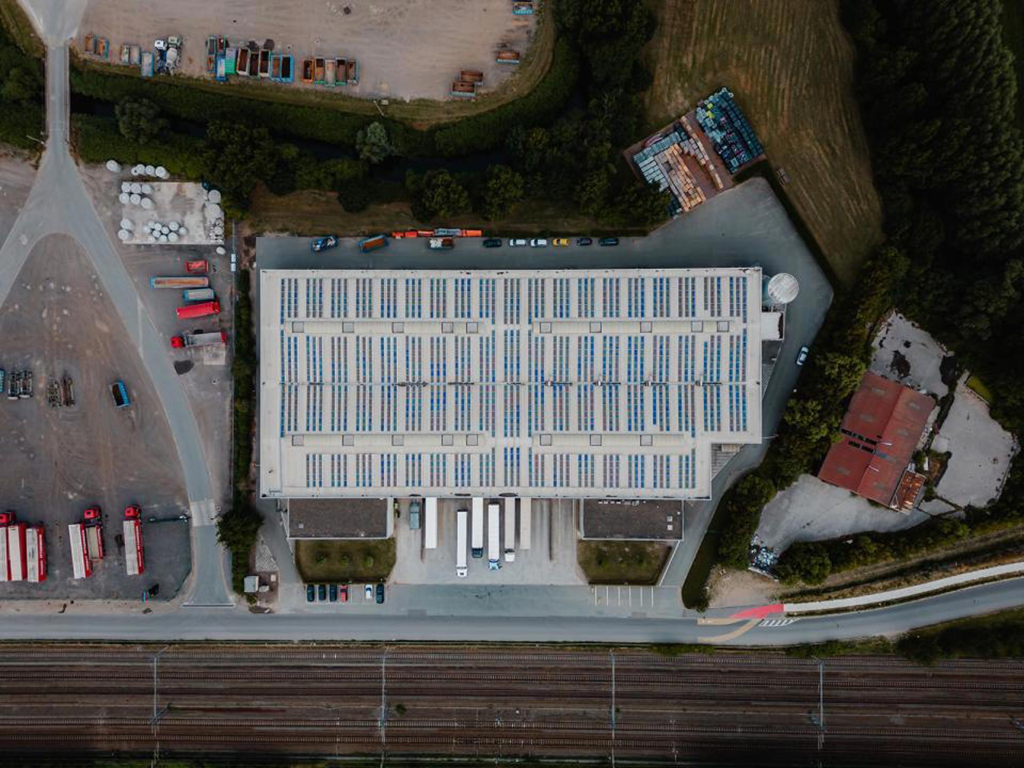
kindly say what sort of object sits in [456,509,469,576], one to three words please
vehicle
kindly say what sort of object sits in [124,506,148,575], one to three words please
truck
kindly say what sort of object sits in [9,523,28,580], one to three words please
trailer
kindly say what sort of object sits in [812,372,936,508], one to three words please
barn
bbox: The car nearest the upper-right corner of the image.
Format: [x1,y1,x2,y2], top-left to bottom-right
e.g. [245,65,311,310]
[795,346,808,365]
